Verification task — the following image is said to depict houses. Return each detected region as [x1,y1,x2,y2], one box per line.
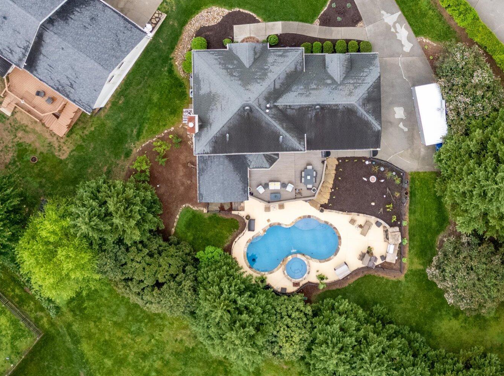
[0,0,153,114]
[187,42,382,203]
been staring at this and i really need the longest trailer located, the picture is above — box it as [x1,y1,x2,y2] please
[412,72,447,145]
